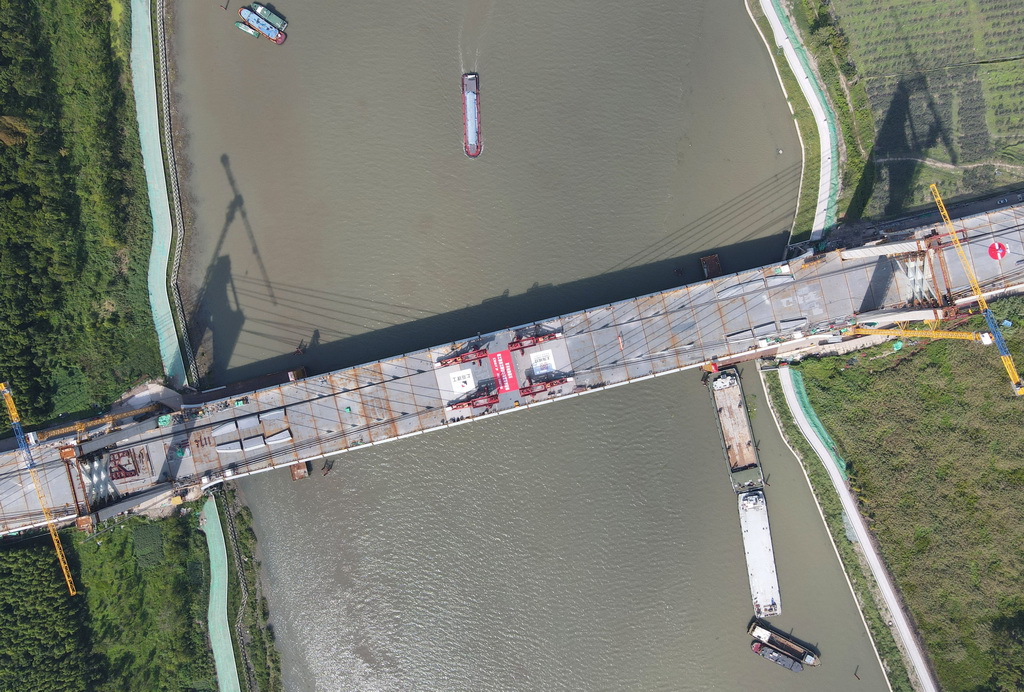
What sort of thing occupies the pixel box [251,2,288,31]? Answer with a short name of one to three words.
ship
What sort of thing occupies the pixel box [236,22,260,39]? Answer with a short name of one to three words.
boat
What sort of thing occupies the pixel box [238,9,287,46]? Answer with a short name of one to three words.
ship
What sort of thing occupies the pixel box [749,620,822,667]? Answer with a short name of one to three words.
boat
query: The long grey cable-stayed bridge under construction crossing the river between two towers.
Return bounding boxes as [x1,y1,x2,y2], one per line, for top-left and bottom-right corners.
[0,204,1024,533]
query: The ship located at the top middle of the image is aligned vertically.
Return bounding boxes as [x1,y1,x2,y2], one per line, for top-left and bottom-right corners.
[461,75,481,158]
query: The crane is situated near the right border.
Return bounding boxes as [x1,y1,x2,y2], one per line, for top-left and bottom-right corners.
[847,181,1024,401]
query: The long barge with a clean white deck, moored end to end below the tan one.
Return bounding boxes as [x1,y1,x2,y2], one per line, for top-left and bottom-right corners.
[739,490,781,619]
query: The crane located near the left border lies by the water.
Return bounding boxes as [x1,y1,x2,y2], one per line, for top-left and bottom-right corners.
[0,379,168,600]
